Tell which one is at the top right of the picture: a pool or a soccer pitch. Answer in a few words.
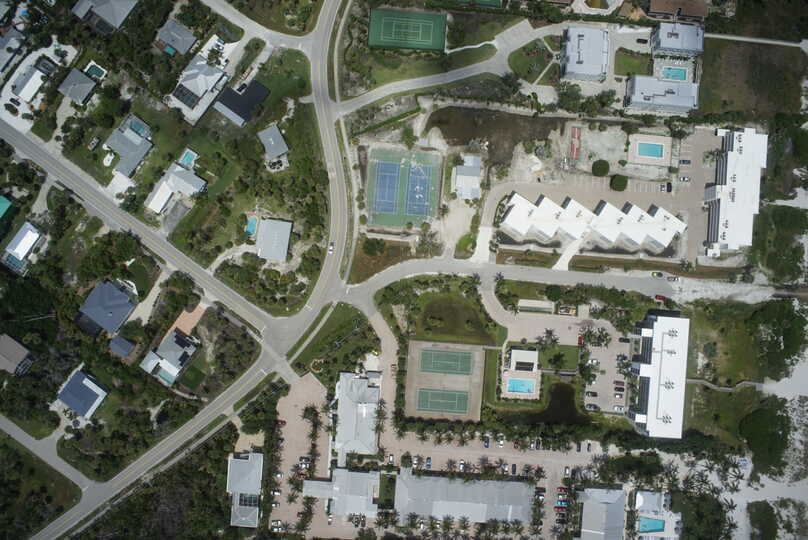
pool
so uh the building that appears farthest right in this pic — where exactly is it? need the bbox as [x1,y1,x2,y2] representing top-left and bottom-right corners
[701,128,769,257]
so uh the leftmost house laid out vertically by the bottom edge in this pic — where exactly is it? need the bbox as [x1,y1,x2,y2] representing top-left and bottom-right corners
[227,451,265,528]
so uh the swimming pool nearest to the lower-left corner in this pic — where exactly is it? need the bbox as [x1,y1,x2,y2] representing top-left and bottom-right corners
[152,366,175,390]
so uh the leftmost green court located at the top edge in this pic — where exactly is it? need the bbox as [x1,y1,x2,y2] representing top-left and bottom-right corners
[368,6,447,50]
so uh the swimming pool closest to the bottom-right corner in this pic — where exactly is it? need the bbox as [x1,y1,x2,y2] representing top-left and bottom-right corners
[633,489,682,540]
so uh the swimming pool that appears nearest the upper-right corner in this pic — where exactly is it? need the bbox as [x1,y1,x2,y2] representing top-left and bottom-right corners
[655,57,699,83]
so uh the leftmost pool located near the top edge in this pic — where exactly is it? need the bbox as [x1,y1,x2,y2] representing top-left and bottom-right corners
[14,2,29,27]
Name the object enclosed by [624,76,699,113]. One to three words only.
building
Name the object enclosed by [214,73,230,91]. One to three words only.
camper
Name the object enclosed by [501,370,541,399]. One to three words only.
swimming pool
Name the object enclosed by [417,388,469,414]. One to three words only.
tennis court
